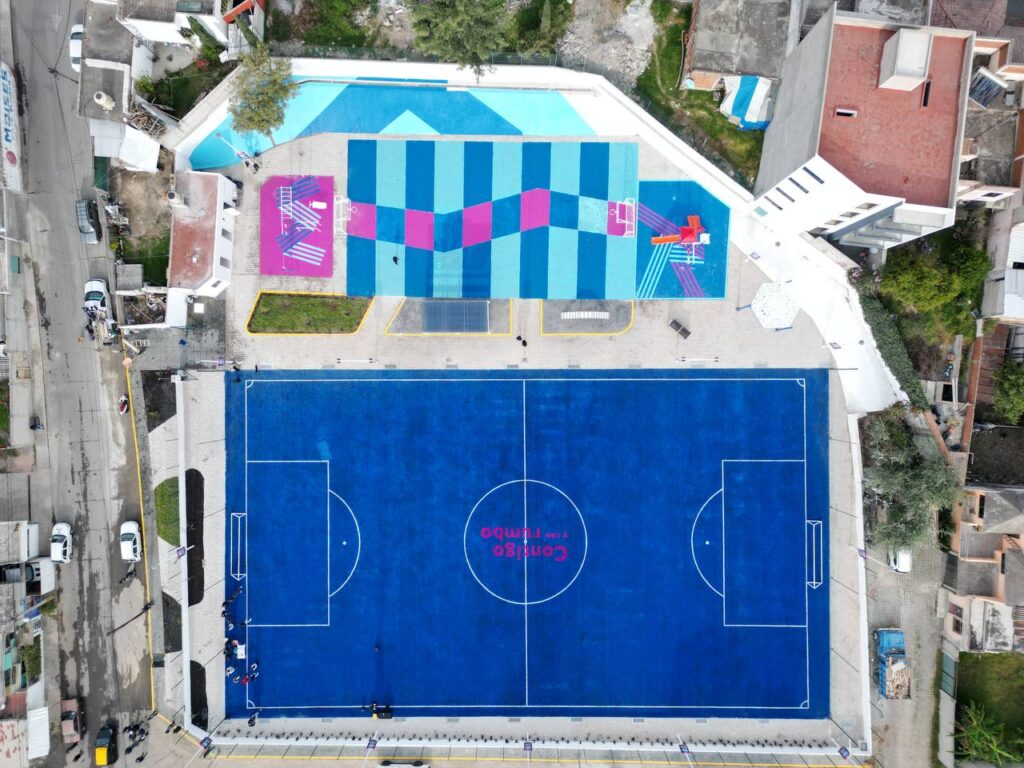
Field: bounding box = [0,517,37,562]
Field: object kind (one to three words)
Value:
house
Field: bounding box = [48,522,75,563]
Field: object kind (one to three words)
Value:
car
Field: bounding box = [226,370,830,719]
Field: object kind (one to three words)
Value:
soccer field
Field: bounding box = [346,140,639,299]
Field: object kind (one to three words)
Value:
basketball court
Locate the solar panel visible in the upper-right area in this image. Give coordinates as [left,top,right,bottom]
[970,65,1018,107]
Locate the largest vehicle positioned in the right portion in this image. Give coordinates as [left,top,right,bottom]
[875,625,911,705]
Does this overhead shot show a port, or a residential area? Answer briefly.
residential area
